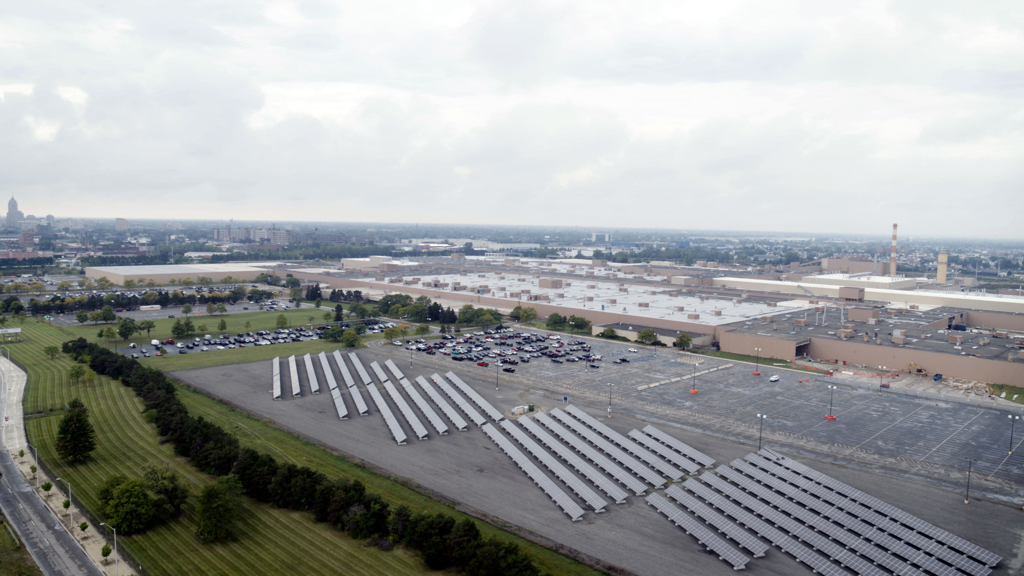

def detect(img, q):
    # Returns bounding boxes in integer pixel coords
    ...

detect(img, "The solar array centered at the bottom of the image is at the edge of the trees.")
[168,348,1024,576]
